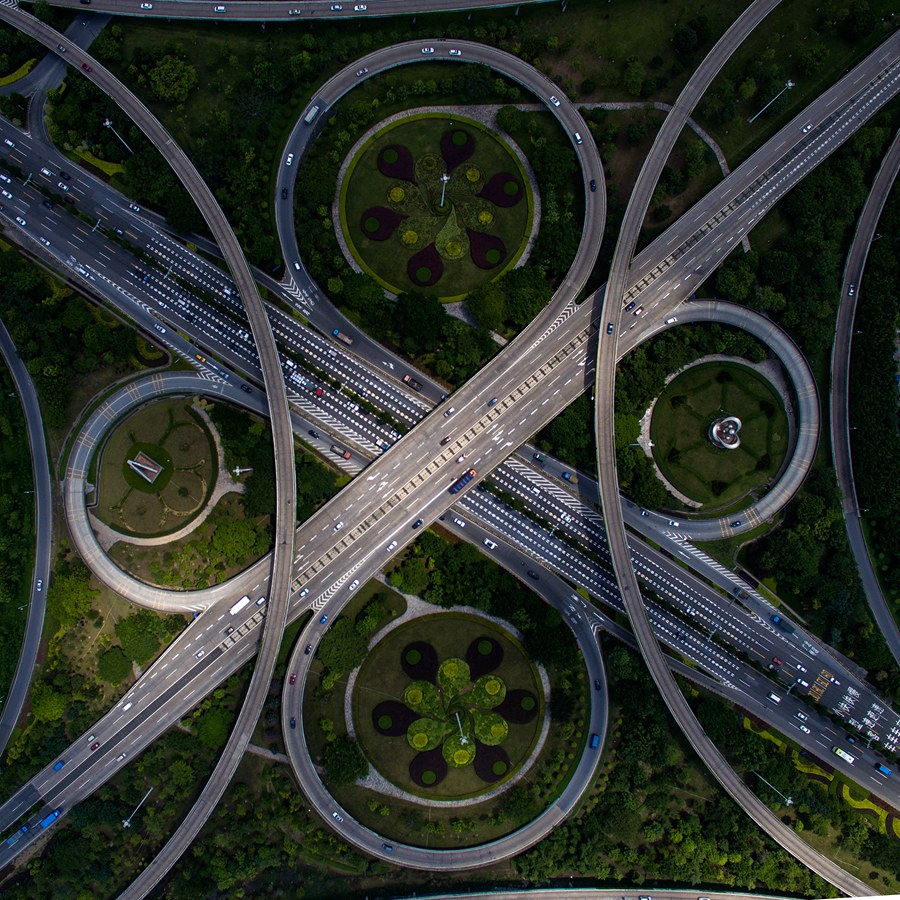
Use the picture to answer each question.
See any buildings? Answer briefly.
No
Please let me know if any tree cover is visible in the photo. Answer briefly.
Yes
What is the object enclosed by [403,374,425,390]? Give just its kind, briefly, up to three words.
vehicle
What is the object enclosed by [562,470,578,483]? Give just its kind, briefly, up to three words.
vehicle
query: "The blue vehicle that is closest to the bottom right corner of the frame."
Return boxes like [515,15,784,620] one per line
[875,763,895,778]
